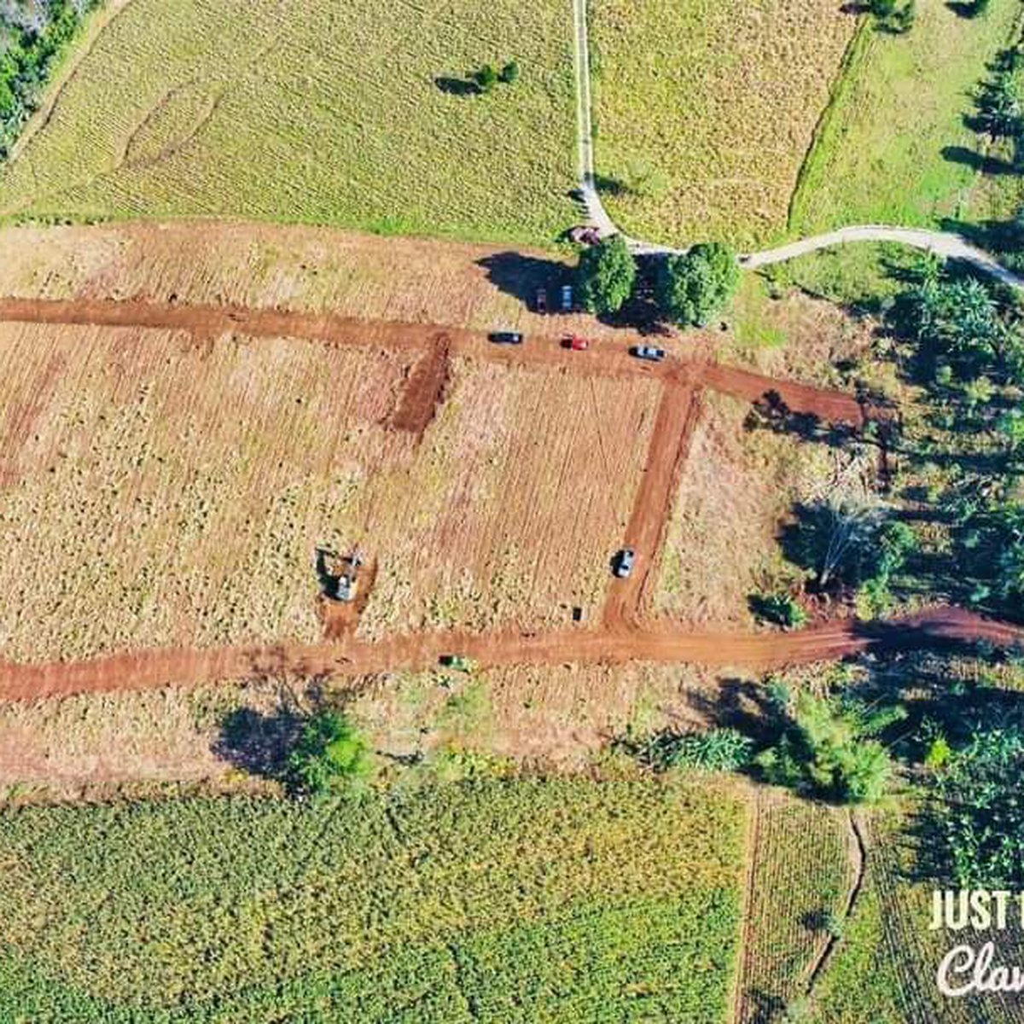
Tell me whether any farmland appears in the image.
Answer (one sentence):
Yes, farmland shows up in the scene.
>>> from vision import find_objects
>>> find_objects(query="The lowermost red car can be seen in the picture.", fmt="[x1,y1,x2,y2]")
[566,339,587,351]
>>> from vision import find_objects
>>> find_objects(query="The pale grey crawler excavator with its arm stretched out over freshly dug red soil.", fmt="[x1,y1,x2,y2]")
[340,552,358,599]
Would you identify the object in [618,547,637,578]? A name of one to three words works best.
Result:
car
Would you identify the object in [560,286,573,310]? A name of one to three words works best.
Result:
vehicle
